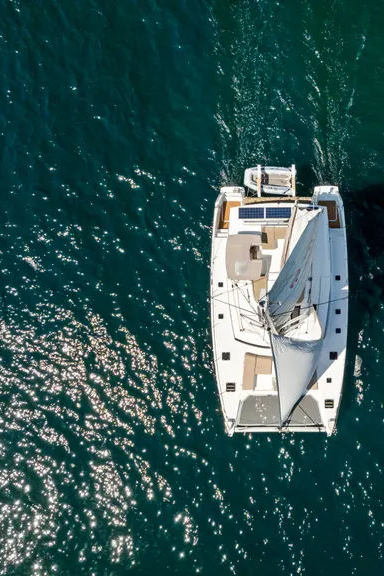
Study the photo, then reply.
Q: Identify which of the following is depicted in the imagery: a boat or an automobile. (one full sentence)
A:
This aerial view contains a boat.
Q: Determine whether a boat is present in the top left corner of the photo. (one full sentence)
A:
No, looking in the top left corner of the photo, there is no boat.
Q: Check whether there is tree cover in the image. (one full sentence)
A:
No, tree cover can't be seen anywhere here.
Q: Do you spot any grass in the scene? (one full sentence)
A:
No, the scene doesn't show any grass.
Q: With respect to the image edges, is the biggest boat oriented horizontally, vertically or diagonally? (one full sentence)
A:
The biggest boat is laid out vertically.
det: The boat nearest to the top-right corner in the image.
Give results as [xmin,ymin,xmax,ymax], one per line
[244,166,292,196]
